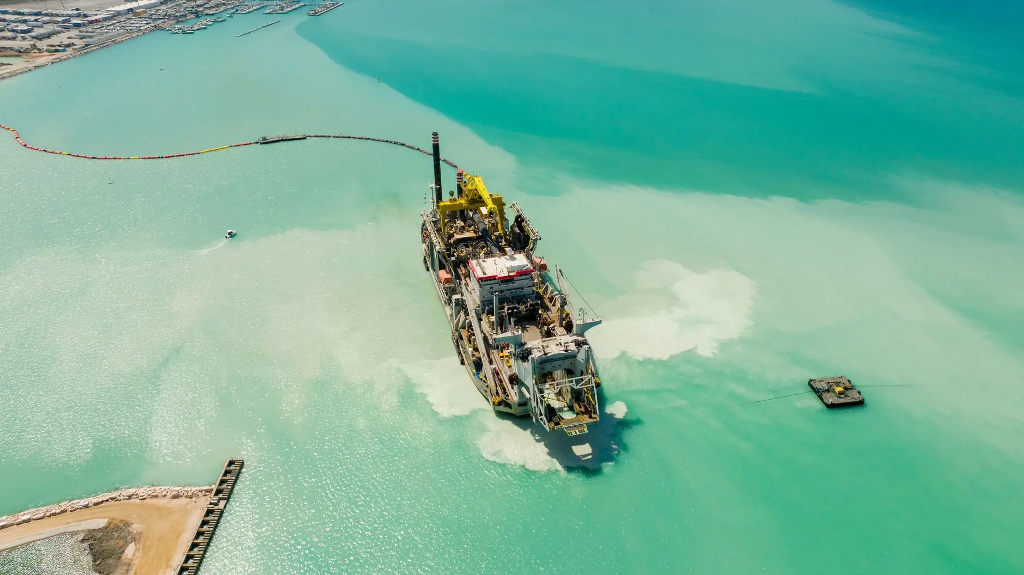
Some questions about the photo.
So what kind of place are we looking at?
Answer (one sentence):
The picture captures a port.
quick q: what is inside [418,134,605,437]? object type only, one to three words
ship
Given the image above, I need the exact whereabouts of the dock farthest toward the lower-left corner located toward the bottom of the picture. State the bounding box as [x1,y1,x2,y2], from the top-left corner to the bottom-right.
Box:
[181,458,249,575]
